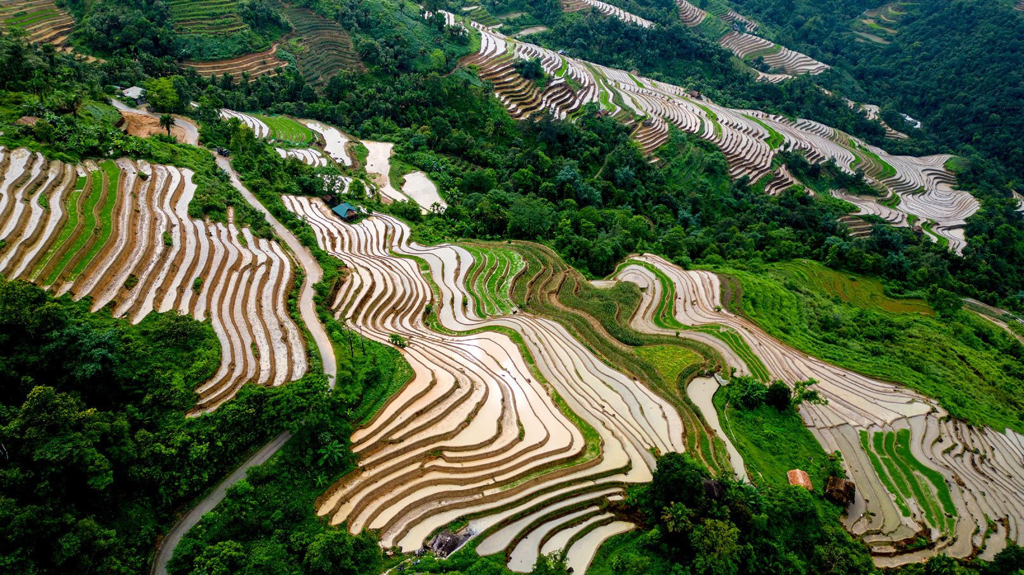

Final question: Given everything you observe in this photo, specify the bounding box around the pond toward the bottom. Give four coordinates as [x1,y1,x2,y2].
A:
[689,376,748,483]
